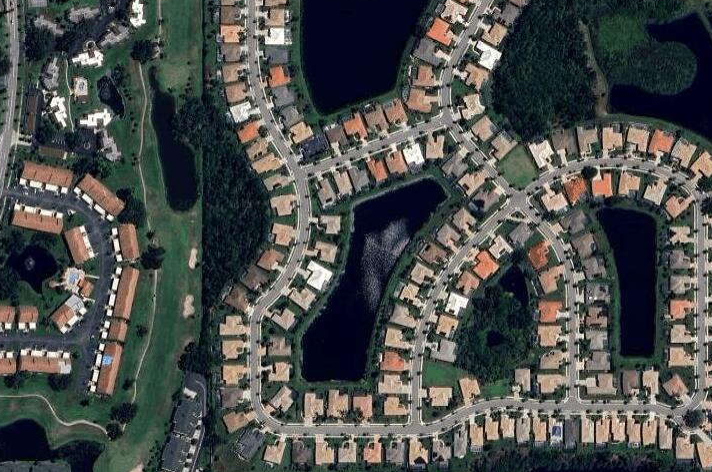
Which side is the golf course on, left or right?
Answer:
left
